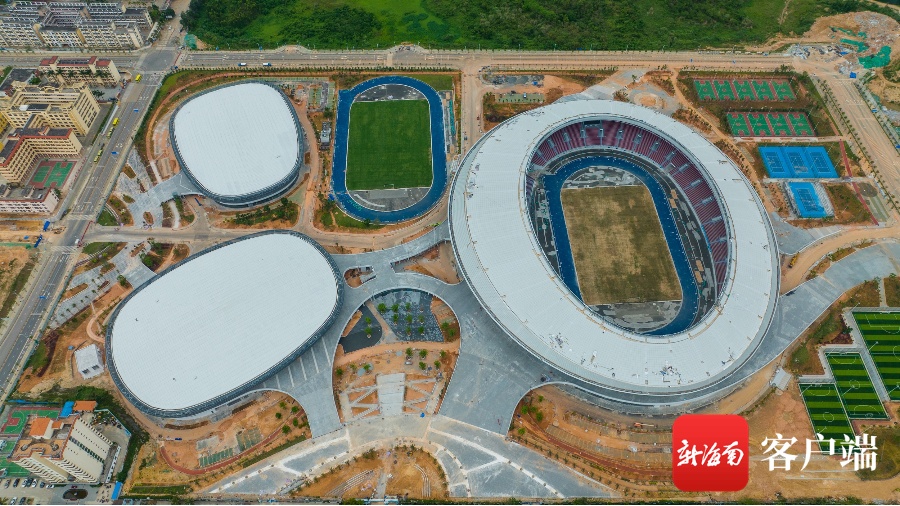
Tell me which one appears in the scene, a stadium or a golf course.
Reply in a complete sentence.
I can see a stadium in this picture.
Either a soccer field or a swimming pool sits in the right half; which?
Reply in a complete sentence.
The one visible in the right half is a soccer field.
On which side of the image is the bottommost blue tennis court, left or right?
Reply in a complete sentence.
You can find the bottommost blue tennis court on the right side of the picture.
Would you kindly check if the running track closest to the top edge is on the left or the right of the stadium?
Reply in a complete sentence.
Compared with the stadium, the running track closest to the top edge is located further to the left.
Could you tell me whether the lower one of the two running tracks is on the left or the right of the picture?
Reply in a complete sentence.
You can find the lower one of the two running tracks on the right side of the picture.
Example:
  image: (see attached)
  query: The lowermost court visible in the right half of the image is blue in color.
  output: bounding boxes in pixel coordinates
[788,182,827,217]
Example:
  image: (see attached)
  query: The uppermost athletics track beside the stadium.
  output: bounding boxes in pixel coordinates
[330,76,446,222]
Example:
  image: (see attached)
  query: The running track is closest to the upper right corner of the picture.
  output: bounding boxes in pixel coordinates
[542,155,703,337]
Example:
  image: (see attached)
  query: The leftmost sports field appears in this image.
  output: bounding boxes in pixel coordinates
[346,99,432,189]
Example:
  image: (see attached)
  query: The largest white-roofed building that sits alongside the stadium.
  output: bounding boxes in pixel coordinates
[105,230,343,418]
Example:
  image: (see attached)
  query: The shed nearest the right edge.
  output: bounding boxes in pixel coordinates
[768,367,793,394]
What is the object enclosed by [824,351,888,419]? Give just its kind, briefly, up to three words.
soccer field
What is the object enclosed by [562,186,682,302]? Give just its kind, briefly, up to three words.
sports field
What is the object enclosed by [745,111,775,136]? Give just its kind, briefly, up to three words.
basketball court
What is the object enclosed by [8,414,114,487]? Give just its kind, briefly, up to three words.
building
